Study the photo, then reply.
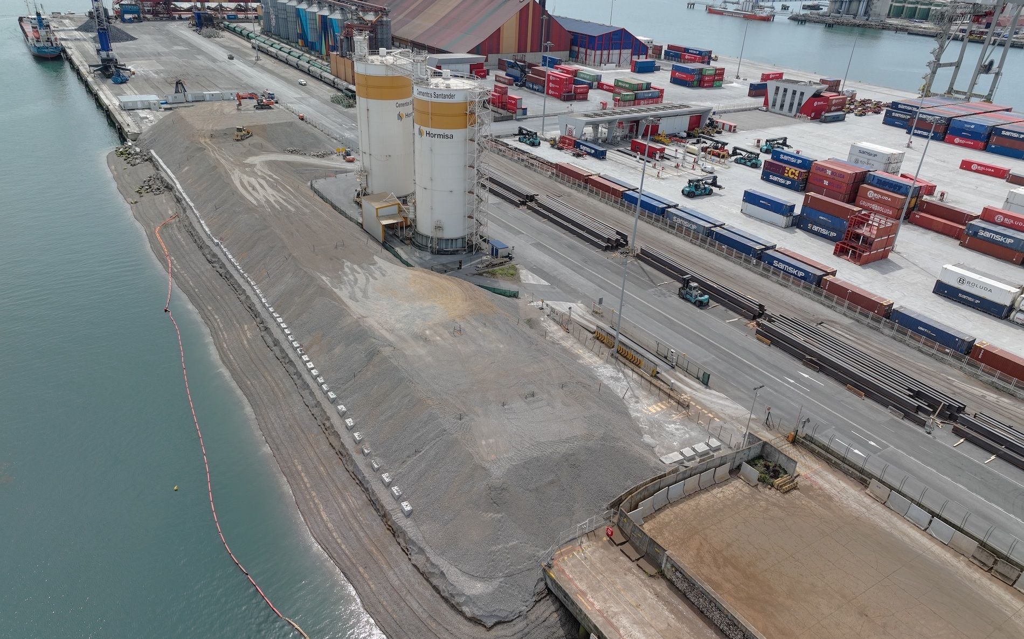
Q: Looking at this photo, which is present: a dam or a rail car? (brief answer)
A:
rail car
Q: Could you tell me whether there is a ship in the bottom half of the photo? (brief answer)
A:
No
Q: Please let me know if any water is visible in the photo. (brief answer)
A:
Yes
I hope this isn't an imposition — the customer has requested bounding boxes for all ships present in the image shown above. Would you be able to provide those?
[19,0,62,61]
[705,0,783,20]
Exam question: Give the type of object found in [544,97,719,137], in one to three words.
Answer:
building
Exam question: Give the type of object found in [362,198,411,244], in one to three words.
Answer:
shed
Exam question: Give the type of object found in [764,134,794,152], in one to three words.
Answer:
work vehicle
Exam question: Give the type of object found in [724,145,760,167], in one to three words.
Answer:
work vehicle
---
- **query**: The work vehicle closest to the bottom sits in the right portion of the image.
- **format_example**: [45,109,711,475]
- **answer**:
[672,275,707,306]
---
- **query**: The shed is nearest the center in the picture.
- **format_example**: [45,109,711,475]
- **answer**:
[488,238,514,258]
